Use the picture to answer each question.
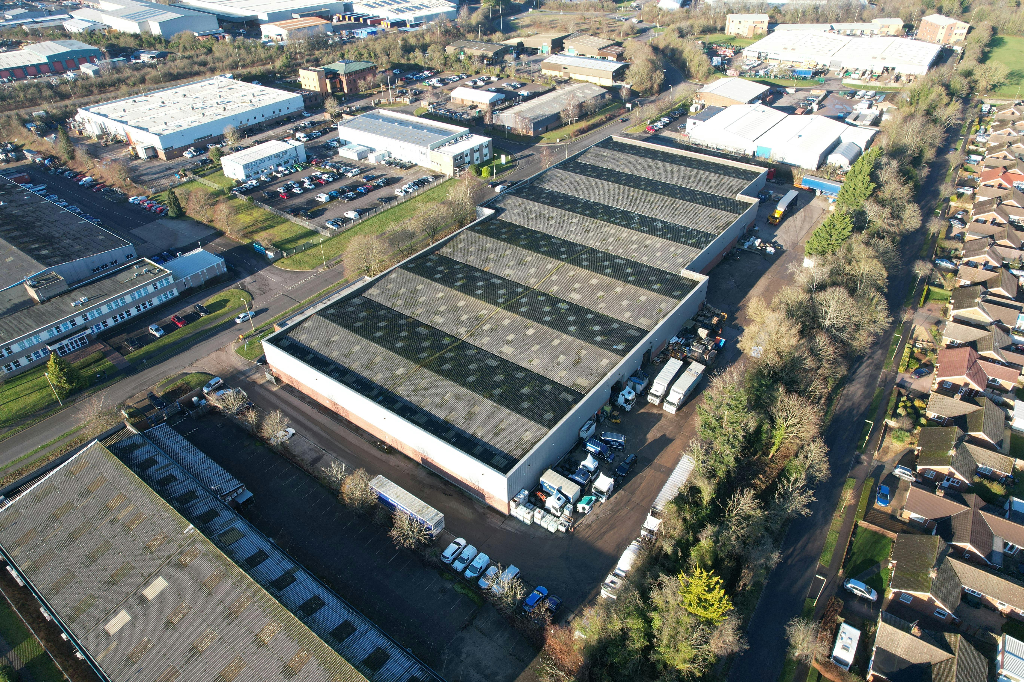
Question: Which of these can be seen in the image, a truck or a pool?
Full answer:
Looking from above, you can make out a truck.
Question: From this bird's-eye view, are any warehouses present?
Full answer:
Yes, the image includes a warehouse.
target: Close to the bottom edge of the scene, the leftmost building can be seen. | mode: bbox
[0,419,451,682]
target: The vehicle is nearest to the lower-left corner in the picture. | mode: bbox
[145,393,167,410]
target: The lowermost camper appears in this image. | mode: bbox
[826,620,862,681]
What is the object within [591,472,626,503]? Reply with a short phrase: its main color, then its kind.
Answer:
white truck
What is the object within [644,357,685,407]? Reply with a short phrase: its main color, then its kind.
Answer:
white truck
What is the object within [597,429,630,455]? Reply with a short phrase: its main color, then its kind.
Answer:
blue vehicle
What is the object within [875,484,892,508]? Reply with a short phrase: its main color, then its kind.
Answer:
blue car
